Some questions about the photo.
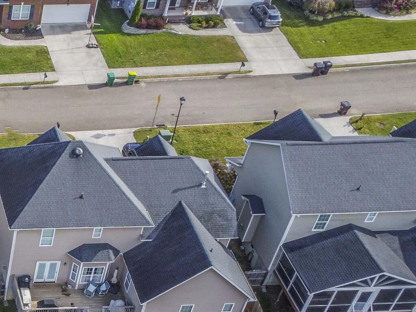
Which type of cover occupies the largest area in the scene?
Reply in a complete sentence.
Most of the picture is covered by buildings.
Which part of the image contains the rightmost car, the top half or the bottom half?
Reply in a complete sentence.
The rightmost car sits in the top half of the picture.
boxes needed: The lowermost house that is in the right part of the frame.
[217,104,416,312]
